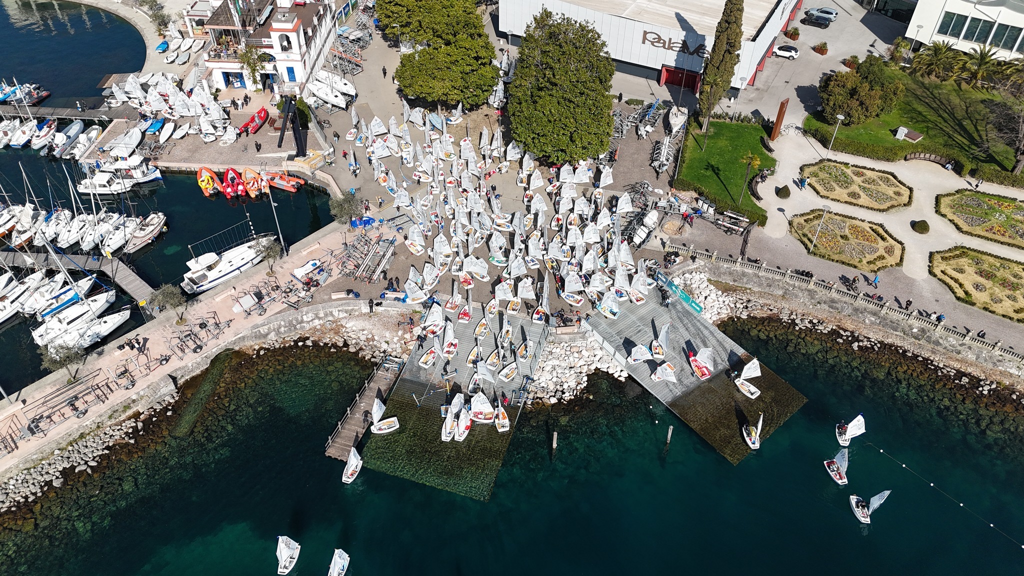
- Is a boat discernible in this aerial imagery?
Yes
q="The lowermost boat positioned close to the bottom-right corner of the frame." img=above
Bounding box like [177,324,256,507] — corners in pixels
[847,491,885,526]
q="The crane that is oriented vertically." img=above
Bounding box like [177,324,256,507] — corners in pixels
[278,80,317,161]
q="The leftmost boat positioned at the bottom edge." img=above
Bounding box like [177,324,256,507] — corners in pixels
[277,536,303,576]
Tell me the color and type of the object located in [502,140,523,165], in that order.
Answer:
white boat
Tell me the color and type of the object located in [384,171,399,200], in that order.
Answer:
white boat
